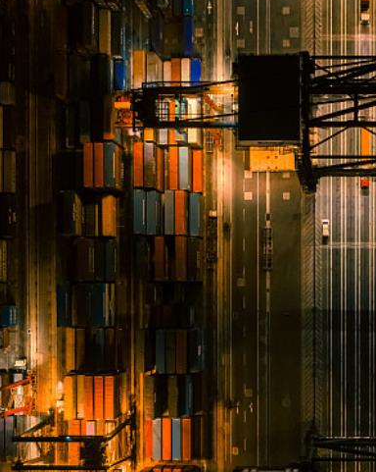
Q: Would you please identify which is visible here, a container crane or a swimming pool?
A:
container crane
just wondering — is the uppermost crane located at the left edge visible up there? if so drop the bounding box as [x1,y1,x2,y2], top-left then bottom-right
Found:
[0,370,37,422]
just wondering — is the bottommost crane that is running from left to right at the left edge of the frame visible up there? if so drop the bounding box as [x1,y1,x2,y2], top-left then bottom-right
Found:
[6,416,134,472]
